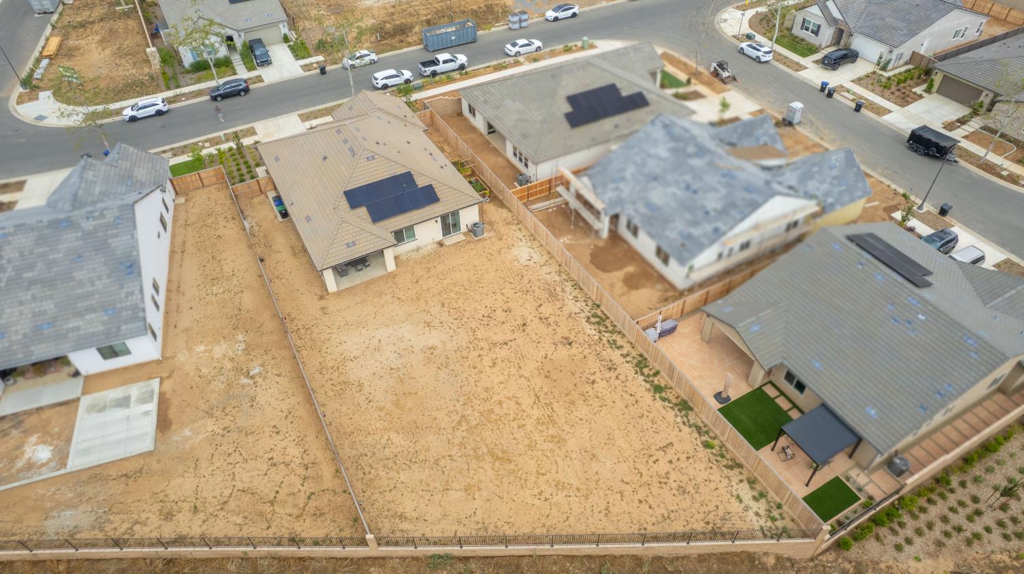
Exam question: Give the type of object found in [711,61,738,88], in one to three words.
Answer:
work vehicle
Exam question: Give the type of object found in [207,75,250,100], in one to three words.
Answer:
car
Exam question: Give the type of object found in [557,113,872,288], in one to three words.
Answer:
house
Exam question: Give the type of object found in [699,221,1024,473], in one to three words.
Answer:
house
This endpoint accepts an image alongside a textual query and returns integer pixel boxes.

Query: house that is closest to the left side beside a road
[0,143,178,397]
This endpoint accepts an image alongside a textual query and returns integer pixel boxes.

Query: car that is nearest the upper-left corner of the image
[121,93,166,119]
